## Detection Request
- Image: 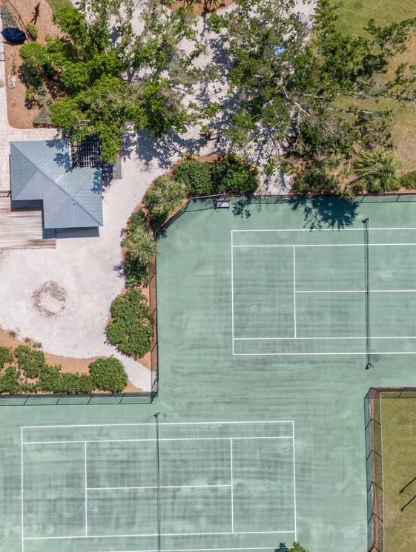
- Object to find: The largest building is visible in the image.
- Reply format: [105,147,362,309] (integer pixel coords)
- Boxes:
[9,140,103,226]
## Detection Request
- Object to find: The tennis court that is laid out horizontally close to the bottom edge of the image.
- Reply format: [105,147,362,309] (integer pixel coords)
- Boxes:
[0,387,375,552]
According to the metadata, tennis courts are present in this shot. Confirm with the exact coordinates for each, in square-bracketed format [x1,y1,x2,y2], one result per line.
[0,387,375,552]
[156,193,416,392]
